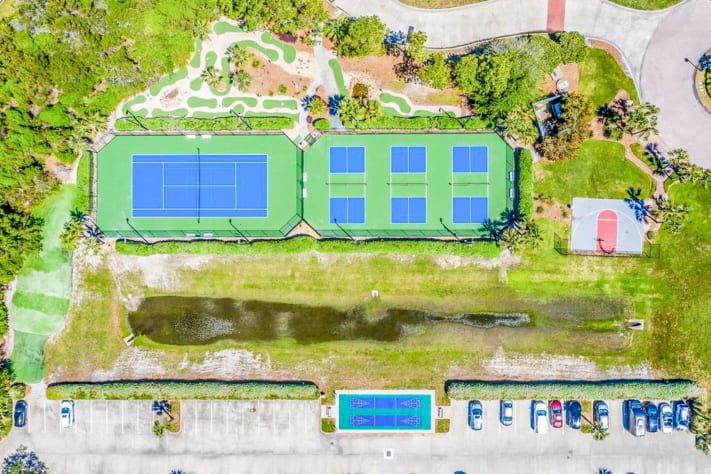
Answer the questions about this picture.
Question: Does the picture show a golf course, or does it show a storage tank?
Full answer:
There is a golf course in the scene.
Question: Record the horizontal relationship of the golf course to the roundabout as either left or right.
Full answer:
Looking at the photo, the golf course lies to the left of the roundabout.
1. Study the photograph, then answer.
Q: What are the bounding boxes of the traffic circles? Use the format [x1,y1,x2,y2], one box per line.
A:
[639,0,711,174]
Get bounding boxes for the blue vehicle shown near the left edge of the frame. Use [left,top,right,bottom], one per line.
[11,400,26,428]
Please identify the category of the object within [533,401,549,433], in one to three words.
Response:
car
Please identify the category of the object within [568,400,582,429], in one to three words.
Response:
vehicle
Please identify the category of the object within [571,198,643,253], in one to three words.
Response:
basketball court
